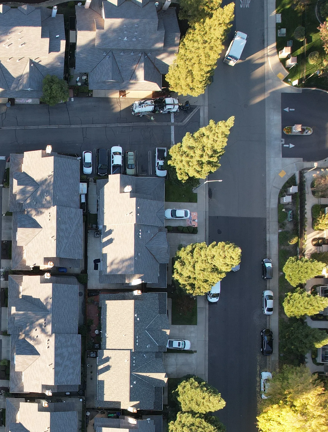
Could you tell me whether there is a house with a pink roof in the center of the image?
No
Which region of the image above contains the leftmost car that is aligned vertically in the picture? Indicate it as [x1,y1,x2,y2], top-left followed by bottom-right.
[82,149,94,176]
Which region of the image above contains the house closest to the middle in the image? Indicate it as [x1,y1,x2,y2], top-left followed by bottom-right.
[94,174,171,288]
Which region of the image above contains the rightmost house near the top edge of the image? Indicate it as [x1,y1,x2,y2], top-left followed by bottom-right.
[73,0,180,91]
